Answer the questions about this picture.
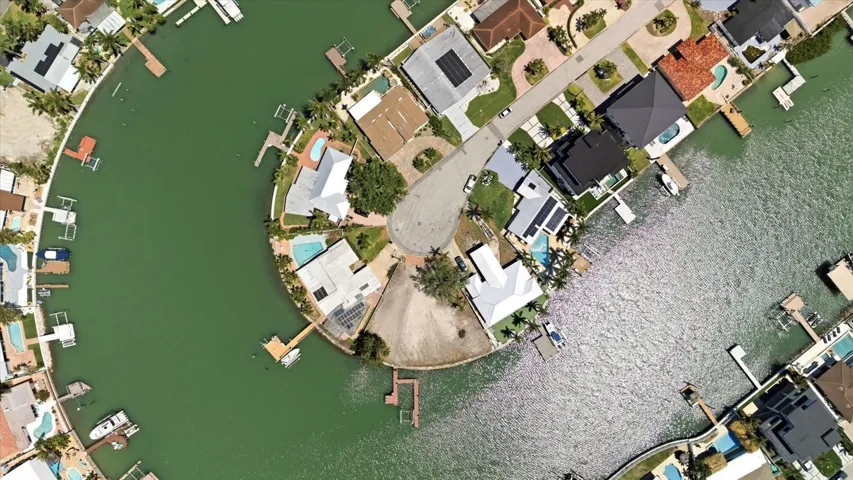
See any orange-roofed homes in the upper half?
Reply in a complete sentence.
Yes, you'll find an orange-roofed home in the upper half.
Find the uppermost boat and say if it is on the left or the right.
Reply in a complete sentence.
The uppermost boat sits on the left side.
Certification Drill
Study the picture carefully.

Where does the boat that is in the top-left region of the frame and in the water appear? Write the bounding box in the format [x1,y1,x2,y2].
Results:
[219,0,242,21]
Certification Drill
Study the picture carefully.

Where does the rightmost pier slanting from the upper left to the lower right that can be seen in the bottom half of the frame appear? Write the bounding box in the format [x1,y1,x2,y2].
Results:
[779,292,822,342]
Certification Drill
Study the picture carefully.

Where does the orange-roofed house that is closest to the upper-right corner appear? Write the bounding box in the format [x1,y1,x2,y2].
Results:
[657,33,729,101]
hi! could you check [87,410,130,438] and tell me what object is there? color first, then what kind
white boat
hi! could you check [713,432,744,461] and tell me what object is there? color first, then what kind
blue swimming pool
